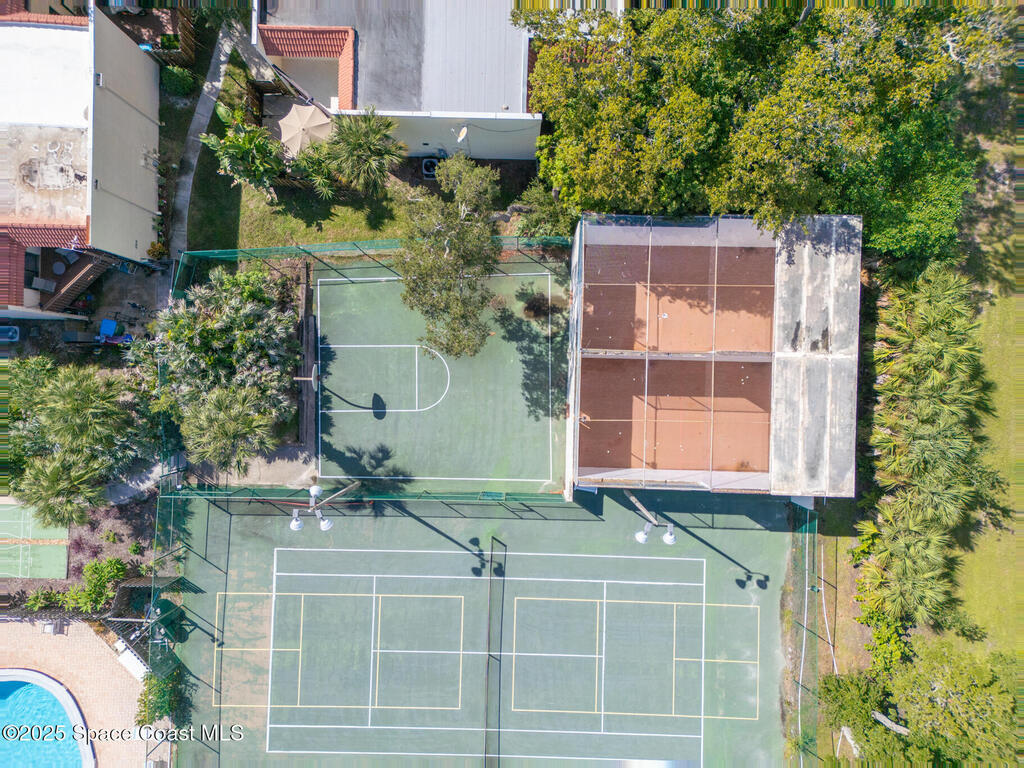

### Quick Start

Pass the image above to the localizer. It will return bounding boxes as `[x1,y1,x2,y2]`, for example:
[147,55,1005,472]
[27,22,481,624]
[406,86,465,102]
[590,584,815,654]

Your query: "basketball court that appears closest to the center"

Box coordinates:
[313,256,570,492]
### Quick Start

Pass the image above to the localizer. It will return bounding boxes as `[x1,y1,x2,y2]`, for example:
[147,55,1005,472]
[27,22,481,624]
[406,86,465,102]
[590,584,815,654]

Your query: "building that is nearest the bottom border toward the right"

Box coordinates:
[565,209,862,509]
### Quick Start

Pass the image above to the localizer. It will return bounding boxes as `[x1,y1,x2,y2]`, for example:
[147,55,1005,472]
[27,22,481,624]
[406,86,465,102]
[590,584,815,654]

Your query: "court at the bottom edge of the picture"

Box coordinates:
[181,480,789,768]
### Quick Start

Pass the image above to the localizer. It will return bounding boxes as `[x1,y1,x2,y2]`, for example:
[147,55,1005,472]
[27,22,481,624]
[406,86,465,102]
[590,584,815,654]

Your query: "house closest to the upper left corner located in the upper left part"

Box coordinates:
[0,0,162,325]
